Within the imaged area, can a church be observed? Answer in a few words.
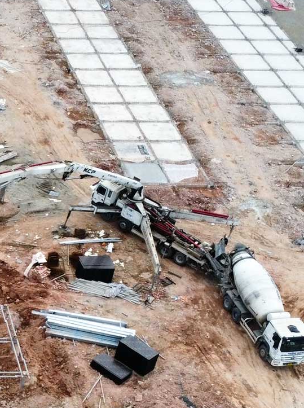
No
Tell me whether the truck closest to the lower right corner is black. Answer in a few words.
No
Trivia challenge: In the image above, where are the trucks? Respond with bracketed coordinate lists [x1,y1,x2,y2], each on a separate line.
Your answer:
[220,247,304,361]
[0,159,240,301]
